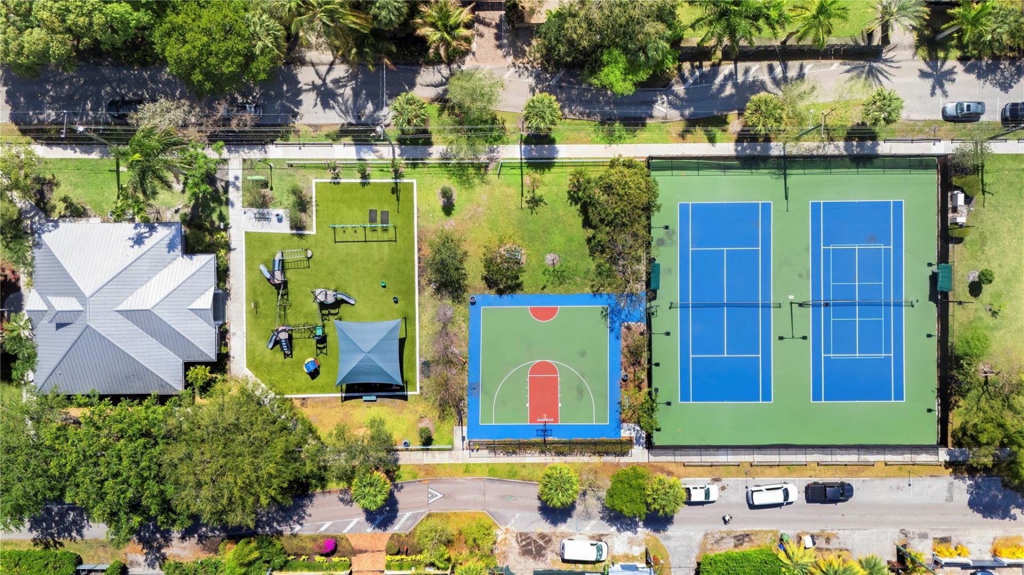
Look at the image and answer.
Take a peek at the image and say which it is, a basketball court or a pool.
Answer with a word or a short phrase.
basketball court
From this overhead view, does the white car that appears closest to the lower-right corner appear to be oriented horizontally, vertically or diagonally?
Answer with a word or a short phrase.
horizontally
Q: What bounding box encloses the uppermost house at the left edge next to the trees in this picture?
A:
[25,222,226,395]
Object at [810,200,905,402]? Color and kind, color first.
blue tennis court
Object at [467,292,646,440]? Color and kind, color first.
green basketball court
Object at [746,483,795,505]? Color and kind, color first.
white car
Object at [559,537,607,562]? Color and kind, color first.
white vehicle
